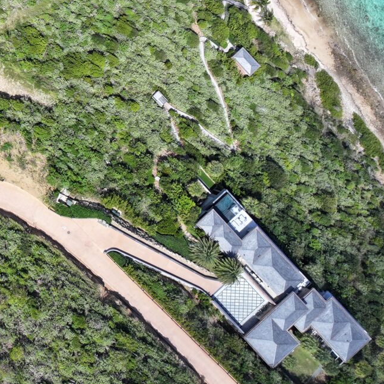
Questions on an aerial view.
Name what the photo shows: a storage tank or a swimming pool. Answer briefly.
swimming pool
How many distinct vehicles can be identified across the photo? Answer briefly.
0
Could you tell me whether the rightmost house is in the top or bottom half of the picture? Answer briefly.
bottom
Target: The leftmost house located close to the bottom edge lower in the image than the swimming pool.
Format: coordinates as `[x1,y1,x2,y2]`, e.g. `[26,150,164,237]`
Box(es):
[240,292,307,367]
